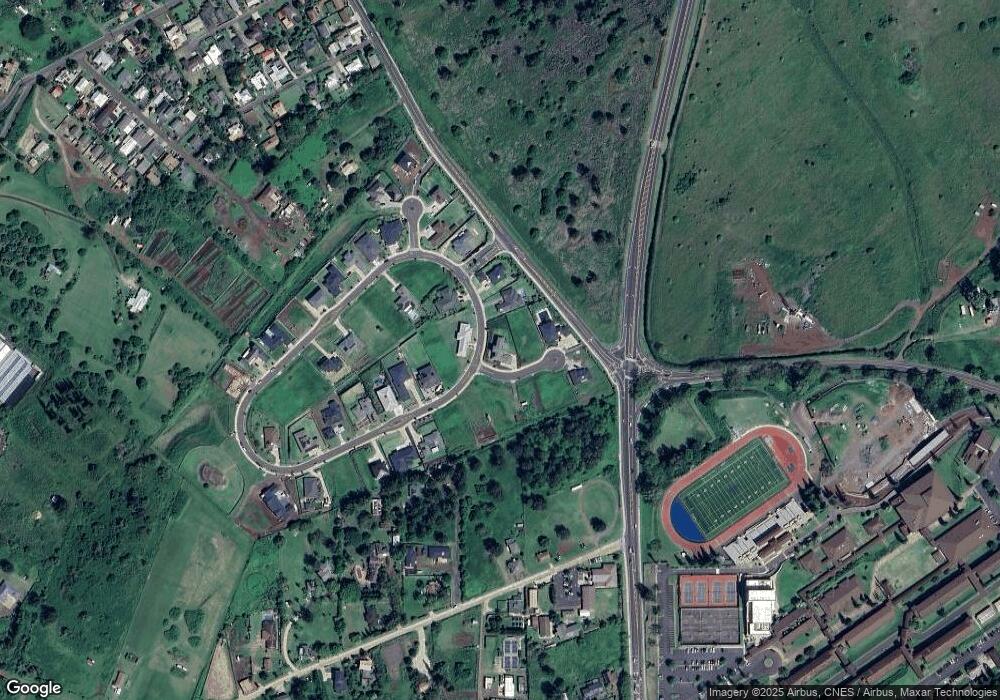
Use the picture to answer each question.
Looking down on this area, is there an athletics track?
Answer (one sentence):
Yes, there is an athletics track in the image.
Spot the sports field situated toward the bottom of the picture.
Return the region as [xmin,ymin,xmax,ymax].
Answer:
[676,437,791,542]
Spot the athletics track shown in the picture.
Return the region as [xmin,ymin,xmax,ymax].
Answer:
[662,425,810,551]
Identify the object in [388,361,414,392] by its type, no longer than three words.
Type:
house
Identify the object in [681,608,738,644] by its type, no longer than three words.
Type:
sports court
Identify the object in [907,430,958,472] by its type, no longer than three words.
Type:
building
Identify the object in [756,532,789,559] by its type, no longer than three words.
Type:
building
